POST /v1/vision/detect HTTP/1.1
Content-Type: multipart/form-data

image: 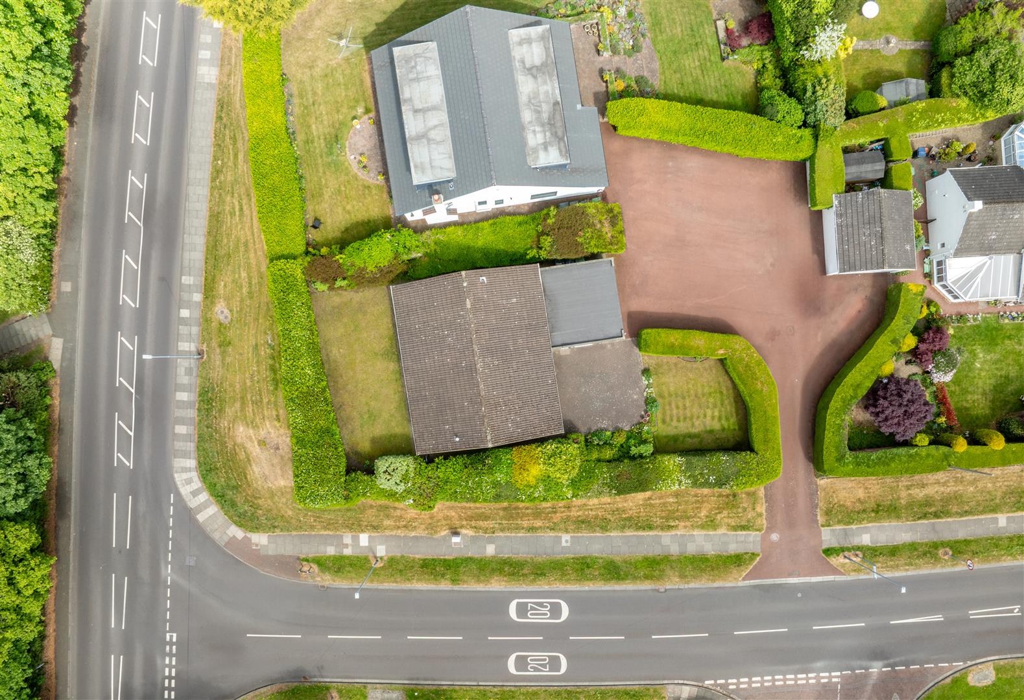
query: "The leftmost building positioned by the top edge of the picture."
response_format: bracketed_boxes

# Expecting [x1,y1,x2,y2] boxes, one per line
[369,6,609,225]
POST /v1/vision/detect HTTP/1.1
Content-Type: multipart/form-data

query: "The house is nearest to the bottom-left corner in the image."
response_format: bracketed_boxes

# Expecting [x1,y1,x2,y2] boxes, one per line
[390,264,565,455]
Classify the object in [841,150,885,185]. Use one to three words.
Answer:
shed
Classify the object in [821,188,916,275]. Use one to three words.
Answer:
building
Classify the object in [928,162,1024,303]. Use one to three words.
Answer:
house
